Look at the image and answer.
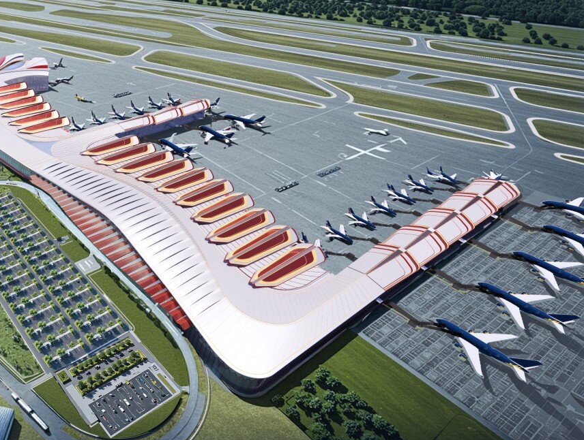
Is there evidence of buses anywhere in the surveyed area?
Yes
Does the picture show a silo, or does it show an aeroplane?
aeroplane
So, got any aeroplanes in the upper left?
Yes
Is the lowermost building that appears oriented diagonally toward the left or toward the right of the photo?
left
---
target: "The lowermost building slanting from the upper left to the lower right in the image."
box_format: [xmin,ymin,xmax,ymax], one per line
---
[66,385,99,428]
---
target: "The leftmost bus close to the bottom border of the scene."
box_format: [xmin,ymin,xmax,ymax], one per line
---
[14,395,51,433]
